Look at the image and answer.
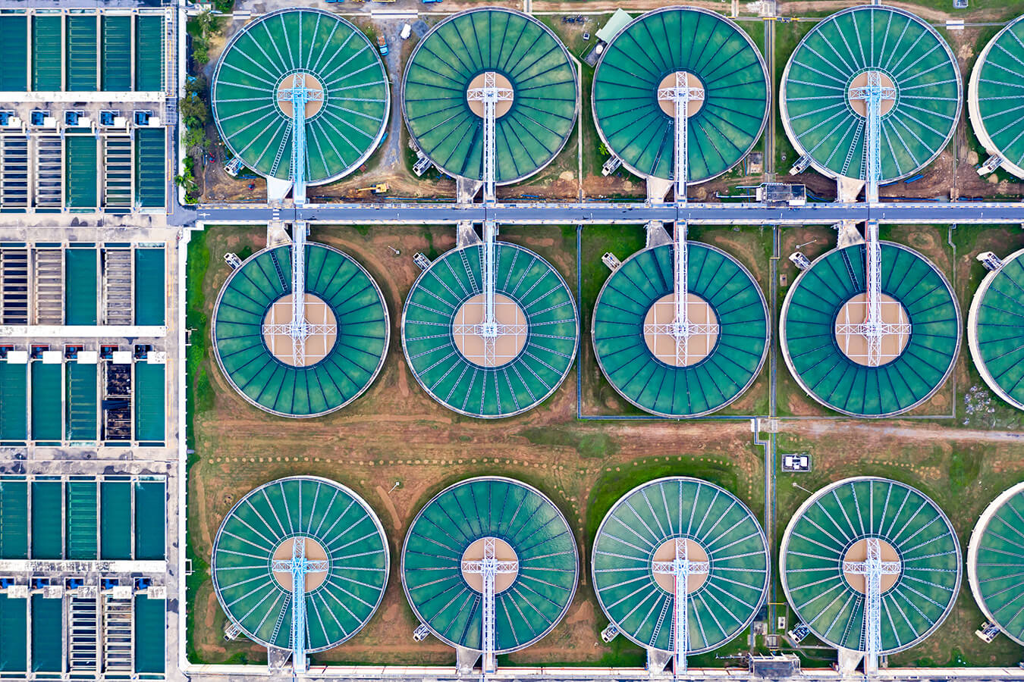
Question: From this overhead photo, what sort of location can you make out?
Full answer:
The area seen from above is an industrial area.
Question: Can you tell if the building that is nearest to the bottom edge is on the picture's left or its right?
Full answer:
You can find the building that is nearest to the bottom edge on the right side of the picture.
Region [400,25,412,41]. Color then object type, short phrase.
white vehicle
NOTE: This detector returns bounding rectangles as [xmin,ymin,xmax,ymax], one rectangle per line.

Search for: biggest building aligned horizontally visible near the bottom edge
[747,653,800,677]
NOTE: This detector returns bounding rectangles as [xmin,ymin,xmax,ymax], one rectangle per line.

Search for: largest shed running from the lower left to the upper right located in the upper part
[594,8,631,45]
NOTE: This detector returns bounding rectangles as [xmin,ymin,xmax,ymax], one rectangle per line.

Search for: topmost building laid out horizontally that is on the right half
[756,184,806,206]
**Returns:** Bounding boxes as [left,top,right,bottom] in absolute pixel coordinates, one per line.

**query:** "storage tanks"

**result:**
[401,240,580,419]
[780,474,963,656]
[780,240,963,419]
[969,481,1024,645]
[211,240,392,419]
[211,5,392,187]
[591,5,771,187]
[591,240,771,419]
[211,474,392,656]
[401,5,580,187]
[401,474,580,656]
[779,5,963,187]
[969,16,1024,180]
[969,248,1024,411]
[591,474,771,656]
